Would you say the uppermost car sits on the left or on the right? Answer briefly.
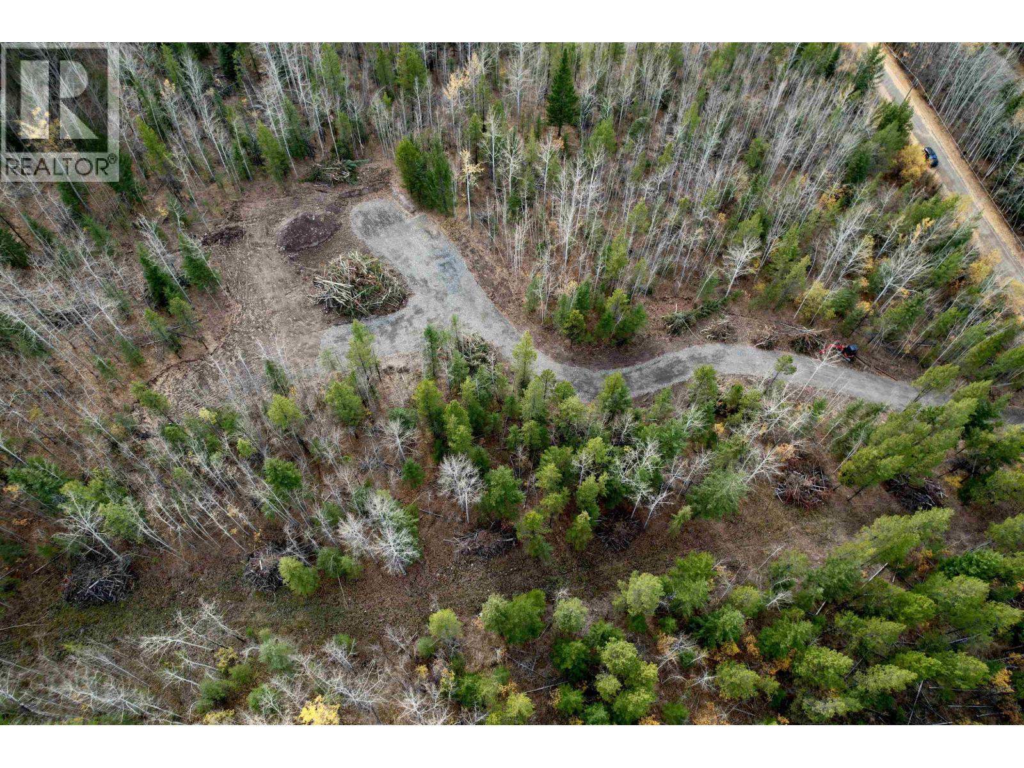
right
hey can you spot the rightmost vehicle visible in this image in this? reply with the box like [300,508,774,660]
[923,142,943,163]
